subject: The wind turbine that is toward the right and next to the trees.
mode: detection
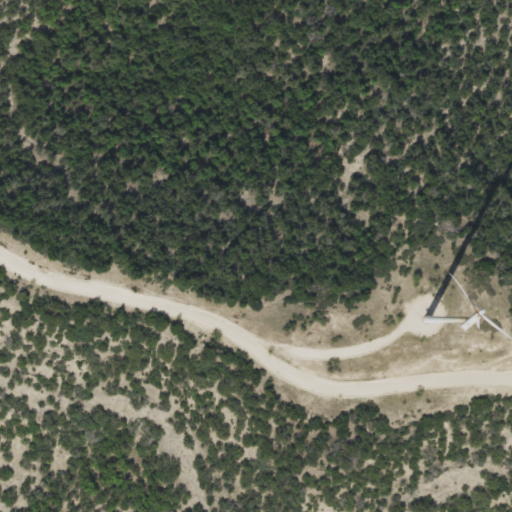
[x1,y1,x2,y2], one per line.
[424,268,512,340]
